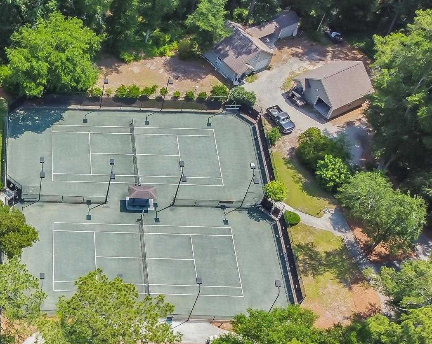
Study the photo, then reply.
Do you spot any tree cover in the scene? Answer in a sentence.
Yes, the picture does contain tree cover.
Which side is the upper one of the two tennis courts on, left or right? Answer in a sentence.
The upper one of the two tennis courts is on the left side of the image.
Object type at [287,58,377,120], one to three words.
building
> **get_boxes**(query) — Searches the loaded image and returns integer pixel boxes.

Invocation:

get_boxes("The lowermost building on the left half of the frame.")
[126,185,158,214]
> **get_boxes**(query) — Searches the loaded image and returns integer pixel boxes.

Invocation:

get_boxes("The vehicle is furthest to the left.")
[265,101,295,132]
